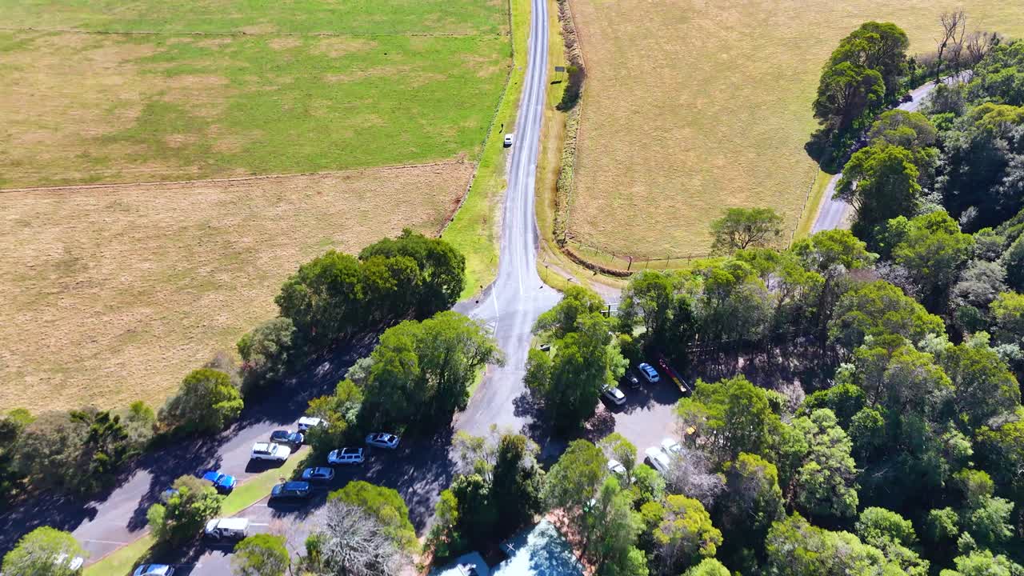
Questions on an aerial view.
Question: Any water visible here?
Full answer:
No, the scene doesn't show any water.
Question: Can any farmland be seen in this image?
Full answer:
Yes, some farmland is visible.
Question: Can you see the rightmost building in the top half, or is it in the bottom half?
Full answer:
Seen from above, the rightmost building lies in the bottom half of the view.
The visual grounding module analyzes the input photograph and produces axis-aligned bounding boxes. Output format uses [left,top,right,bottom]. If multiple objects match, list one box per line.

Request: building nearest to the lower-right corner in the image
[487,519,598,576]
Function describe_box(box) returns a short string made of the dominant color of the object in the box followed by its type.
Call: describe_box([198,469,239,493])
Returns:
blue car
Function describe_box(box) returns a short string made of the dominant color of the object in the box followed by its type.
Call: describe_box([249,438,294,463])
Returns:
white car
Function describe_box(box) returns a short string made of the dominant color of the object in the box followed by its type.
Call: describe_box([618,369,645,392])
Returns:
black car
